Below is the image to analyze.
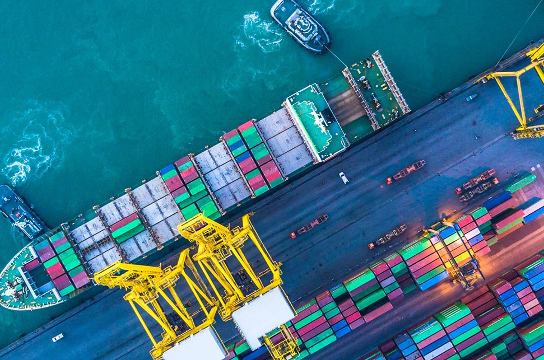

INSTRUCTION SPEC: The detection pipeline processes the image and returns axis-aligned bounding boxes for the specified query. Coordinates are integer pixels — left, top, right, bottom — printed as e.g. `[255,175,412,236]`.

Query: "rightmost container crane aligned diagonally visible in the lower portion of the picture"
[422,215,487,291]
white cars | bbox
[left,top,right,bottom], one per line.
[51,333,64,342]
[338,172,349,184]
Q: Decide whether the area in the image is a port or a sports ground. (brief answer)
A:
port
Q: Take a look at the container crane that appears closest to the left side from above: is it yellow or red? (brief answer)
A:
yellow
